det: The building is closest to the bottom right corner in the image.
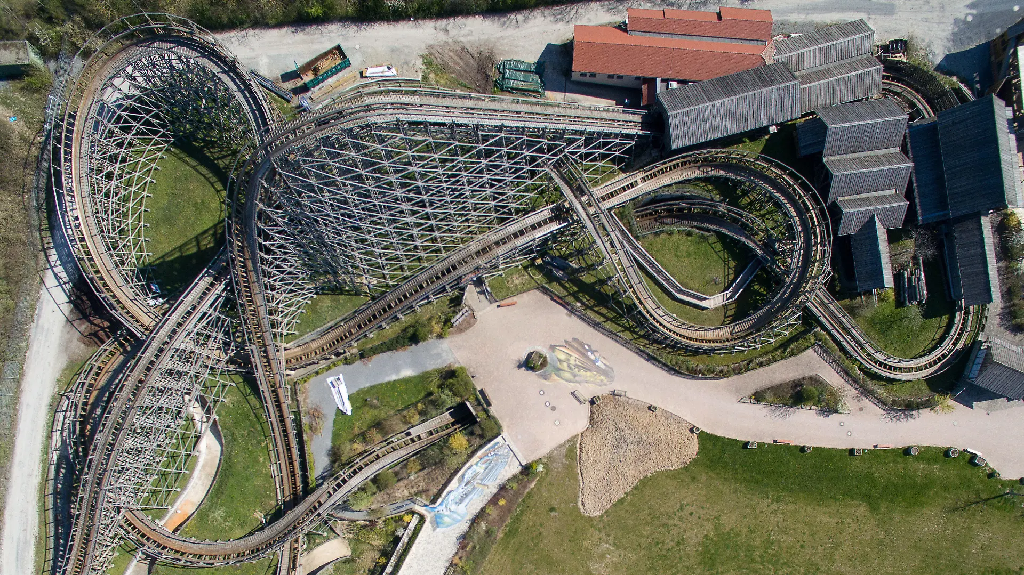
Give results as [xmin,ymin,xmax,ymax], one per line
[951,336,1024,408]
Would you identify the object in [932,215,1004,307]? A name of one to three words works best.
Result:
barn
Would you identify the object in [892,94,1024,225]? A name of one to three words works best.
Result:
barn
